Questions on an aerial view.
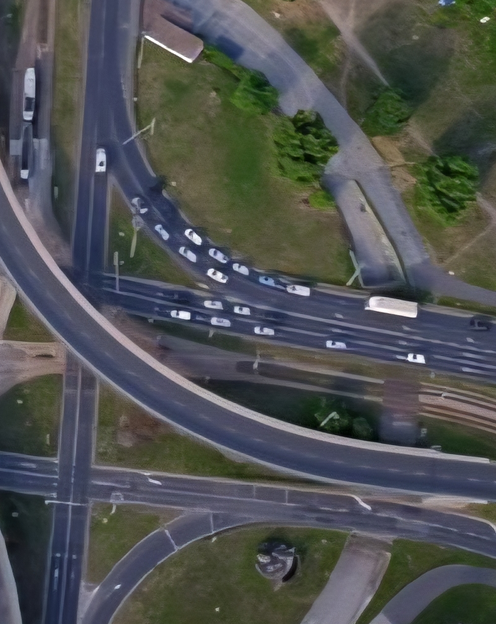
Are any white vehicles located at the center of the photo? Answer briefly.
Yes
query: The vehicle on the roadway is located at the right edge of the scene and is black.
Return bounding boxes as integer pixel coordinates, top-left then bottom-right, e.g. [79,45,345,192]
[468,315,493,332]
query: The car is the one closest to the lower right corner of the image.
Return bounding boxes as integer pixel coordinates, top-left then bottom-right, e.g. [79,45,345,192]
[405,352,428,367]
